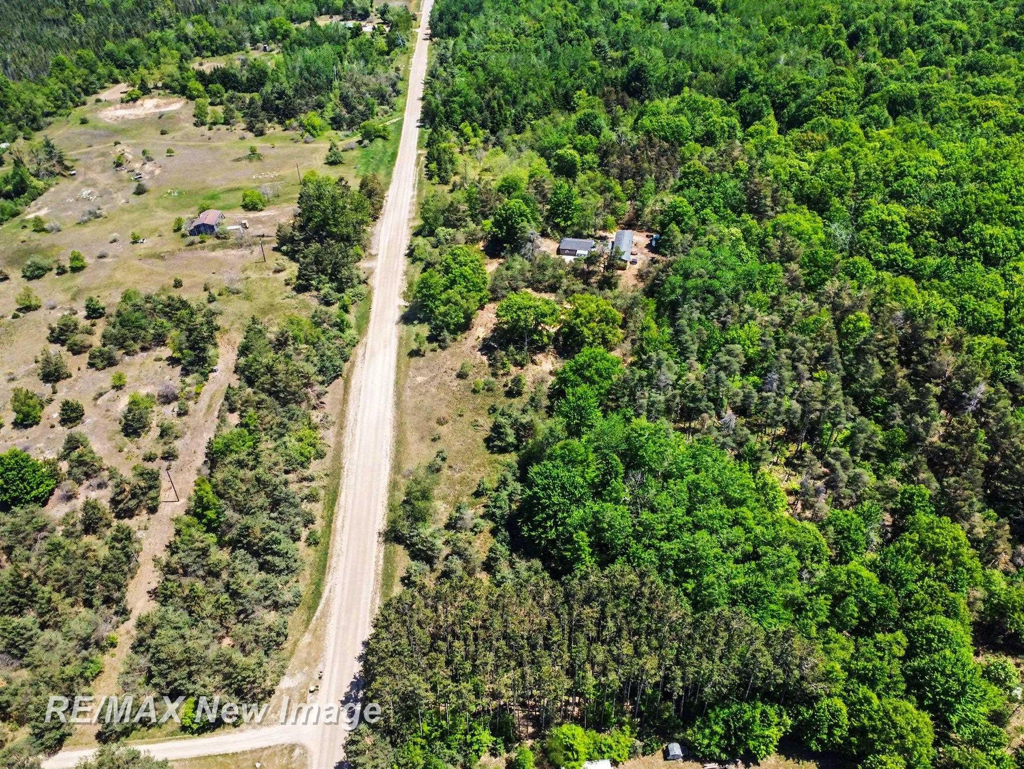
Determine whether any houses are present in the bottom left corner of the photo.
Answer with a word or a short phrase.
No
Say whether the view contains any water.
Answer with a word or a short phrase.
No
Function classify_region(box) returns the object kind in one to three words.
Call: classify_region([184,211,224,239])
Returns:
barn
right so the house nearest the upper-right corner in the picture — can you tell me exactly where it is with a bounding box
[605,232,634,272]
